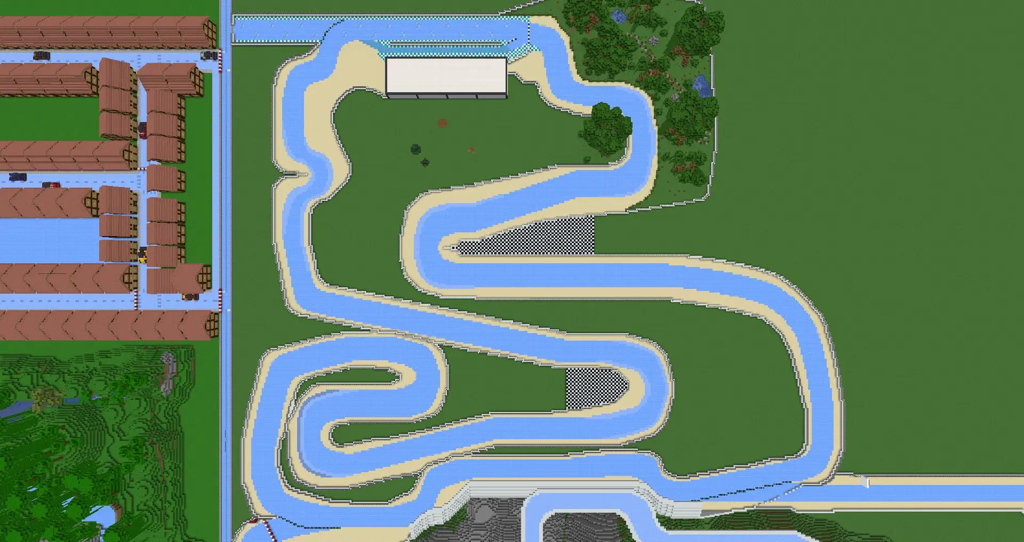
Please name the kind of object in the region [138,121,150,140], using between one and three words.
vehicle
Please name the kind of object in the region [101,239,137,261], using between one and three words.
house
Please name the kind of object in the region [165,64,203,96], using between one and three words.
house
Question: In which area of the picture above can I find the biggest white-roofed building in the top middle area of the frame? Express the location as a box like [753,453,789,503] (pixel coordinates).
[386,57,508,99]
